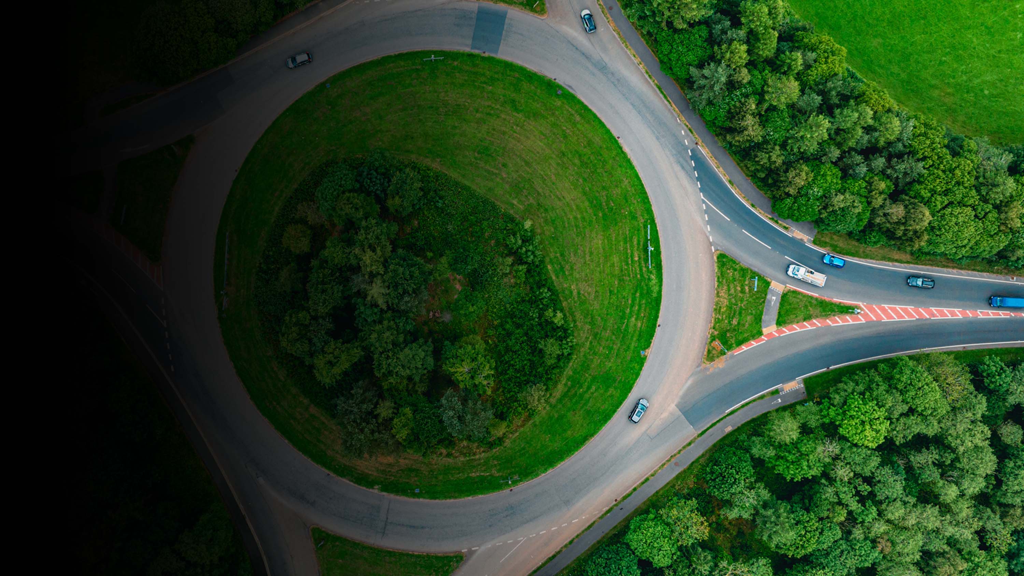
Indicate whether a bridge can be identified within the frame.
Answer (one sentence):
No, there's no bridge here.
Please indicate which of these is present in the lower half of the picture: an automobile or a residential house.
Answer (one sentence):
There is an automobile in the lower half of the picture.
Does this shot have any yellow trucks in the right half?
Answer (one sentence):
No, the scene shows no yellow truck in the right half.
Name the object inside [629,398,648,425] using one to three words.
car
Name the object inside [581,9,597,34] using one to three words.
car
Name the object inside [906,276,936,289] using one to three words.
vehicle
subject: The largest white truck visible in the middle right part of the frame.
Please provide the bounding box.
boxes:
[785,263,828,288]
